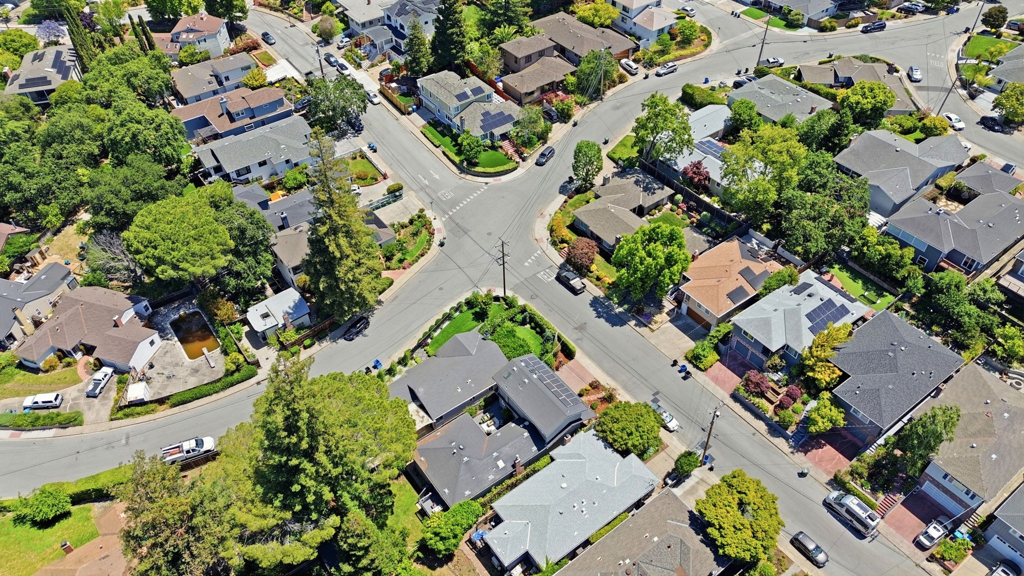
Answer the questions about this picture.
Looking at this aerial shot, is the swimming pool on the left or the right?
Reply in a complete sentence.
It is on the left.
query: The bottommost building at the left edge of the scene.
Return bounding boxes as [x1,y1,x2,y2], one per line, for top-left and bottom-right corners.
[35,505,145,576]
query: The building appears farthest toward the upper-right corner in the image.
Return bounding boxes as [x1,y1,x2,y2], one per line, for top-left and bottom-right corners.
[985,47,1024,94]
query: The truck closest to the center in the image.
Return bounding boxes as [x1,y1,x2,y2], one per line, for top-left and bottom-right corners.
[553,269,590,299]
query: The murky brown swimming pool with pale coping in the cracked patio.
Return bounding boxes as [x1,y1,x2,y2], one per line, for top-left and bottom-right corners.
[166,308,229,362]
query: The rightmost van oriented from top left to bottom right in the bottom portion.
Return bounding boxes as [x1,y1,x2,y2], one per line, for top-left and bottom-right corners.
[822,493,883,541]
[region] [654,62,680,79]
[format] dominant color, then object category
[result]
gray car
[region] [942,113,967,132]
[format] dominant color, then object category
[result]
white car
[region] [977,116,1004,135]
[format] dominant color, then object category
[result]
black car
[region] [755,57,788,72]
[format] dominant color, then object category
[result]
gray vehicle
